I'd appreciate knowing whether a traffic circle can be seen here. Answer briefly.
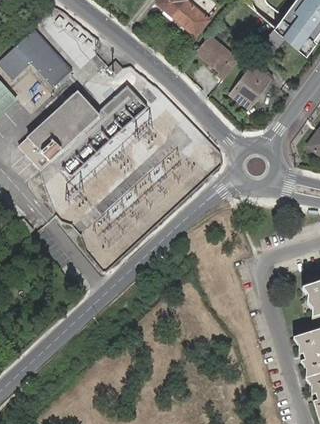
Yes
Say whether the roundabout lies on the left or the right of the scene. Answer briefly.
right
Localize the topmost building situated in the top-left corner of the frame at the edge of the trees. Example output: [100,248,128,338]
[0,30,72,89]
